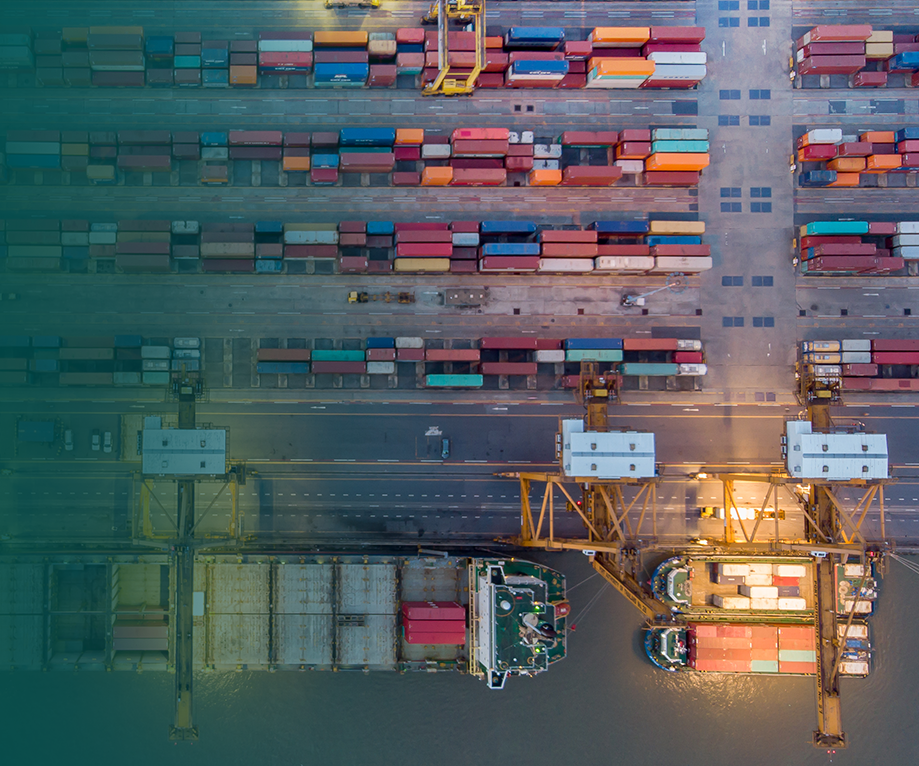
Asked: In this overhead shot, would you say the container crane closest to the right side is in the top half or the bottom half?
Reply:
bottom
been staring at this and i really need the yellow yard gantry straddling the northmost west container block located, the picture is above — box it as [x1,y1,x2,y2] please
[422,0,490,95]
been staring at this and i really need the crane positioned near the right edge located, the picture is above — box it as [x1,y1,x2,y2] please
[683,344,895,753]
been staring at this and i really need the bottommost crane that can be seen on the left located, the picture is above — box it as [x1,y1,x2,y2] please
[121,341,267,751]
